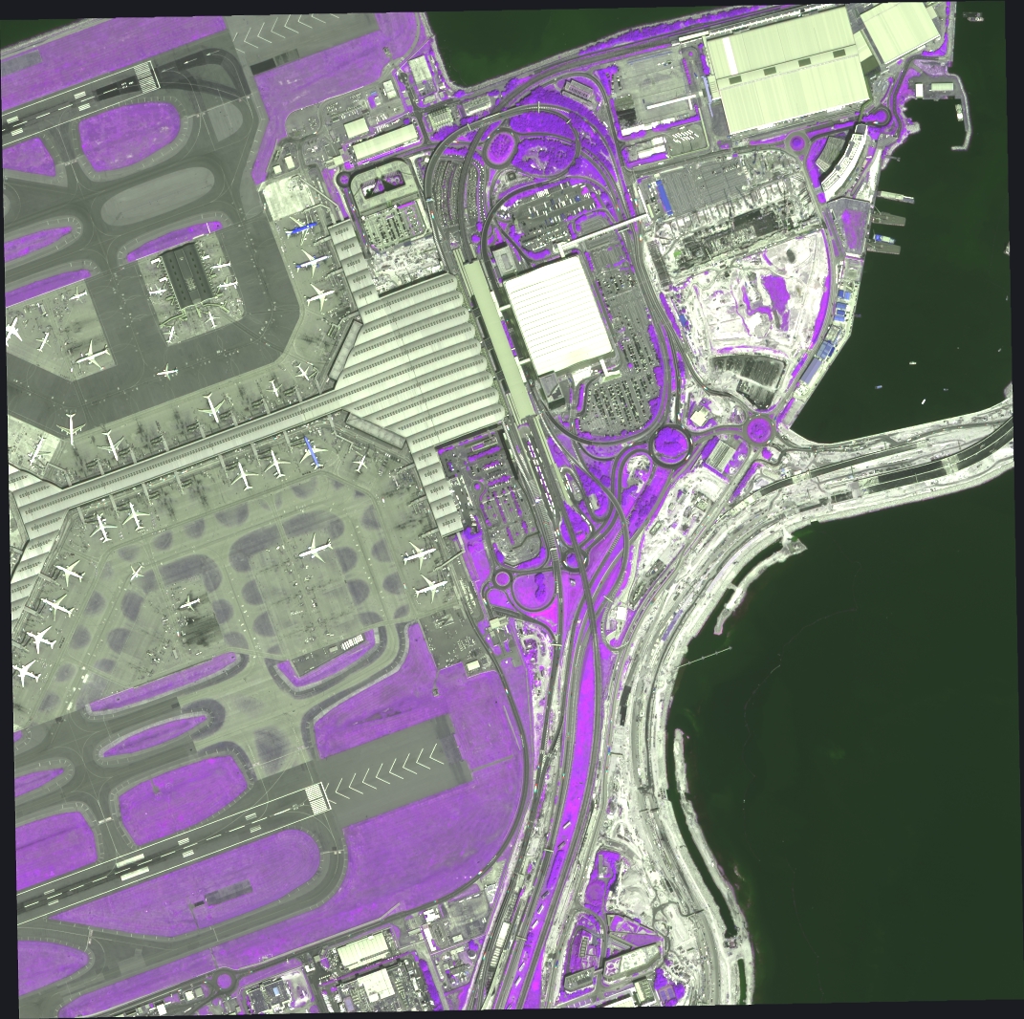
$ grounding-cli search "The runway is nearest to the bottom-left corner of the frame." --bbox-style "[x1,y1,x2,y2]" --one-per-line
[0,781,332,933]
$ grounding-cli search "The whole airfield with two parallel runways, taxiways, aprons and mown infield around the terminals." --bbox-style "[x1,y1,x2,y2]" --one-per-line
[0,0,522,1019]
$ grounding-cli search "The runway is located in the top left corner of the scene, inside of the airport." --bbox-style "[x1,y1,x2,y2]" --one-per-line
[0,59,161,147]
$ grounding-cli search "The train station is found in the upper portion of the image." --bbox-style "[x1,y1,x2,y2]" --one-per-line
[453,248,536,423]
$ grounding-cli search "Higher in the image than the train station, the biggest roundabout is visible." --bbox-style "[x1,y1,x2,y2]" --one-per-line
[483,127,519,169]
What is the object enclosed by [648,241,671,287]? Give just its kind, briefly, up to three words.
shed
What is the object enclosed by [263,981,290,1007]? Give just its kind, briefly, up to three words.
building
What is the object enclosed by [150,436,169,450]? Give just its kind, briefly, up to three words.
jet bridge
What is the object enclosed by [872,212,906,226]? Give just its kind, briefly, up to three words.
pier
